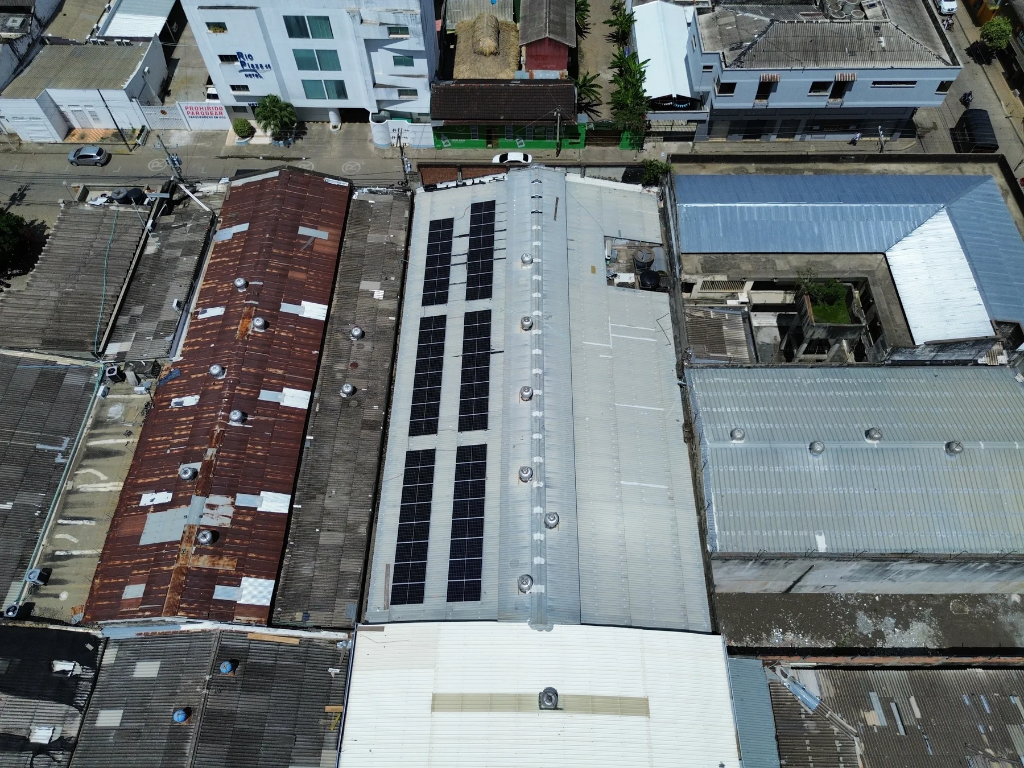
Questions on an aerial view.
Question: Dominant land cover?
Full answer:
The largest share of the image is taken up by buildings.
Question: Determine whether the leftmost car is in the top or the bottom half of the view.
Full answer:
The leftmost car is in the top half of the image.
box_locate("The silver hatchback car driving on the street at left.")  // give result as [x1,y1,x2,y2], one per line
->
[62,143,111,167]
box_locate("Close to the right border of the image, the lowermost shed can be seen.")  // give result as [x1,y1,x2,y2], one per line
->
[765,664,1024,768]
